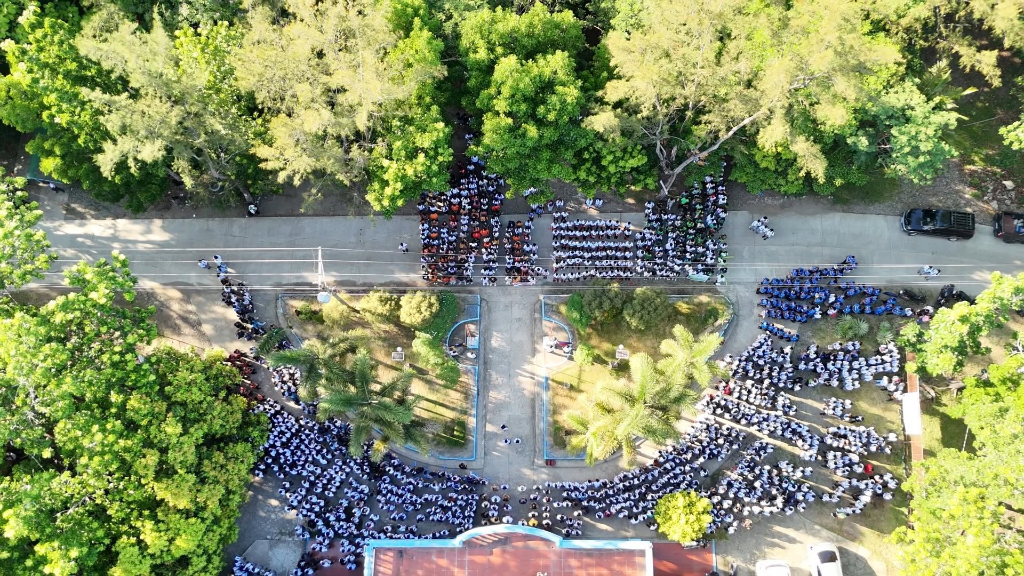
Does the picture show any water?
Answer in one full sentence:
No, there is no water in the image.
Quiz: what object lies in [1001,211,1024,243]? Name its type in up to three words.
truck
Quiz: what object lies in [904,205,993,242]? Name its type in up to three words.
truck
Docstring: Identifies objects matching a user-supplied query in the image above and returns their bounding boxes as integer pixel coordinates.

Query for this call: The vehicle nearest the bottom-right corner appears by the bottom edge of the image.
[810,539,848,576]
